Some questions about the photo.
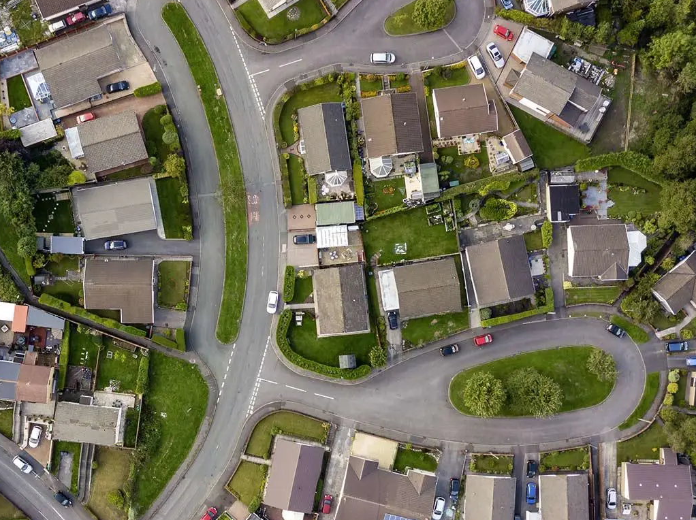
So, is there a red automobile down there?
Yes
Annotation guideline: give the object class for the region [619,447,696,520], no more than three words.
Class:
house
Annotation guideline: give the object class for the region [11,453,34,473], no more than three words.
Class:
car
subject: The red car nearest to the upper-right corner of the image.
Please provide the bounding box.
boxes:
[492,22,514,40]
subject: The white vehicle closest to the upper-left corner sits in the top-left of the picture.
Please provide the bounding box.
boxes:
[47,18,66,34]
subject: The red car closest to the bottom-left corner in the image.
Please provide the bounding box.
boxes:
[199,503,219,520]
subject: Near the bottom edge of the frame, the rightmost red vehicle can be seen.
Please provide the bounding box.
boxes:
[320,492,333,514]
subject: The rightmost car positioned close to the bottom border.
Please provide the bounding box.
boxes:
[606,486,619,509]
